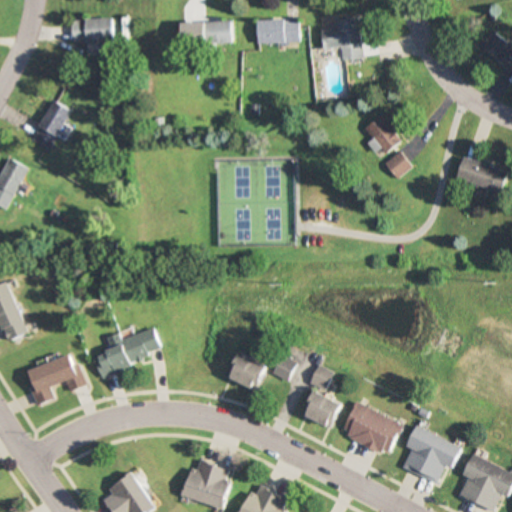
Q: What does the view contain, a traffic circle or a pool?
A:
pool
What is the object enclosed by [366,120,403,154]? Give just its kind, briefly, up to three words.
house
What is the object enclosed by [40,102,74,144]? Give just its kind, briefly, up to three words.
house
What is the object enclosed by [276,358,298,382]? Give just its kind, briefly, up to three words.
building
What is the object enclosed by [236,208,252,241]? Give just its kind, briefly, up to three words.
sports court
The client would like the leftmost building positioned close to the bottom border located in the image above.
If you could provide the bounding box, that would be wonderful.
[104,472,157,512]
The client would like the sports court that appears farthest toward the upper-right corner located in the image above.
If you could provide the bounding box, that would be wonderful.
[264,166,280,198]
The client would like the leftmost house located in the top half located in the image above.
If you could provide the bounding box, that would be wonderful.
[0,158,30,212]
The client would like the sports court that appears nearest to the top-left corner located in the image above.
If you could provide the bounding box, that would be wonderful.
[236,166,250,198]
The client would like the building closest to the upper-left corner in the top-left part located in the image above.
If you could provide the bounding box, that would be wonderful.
[70,16,116,40]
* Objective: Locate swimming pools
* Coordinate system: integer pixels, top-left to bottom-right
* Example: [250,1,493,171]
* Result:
[312,48,350,102]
